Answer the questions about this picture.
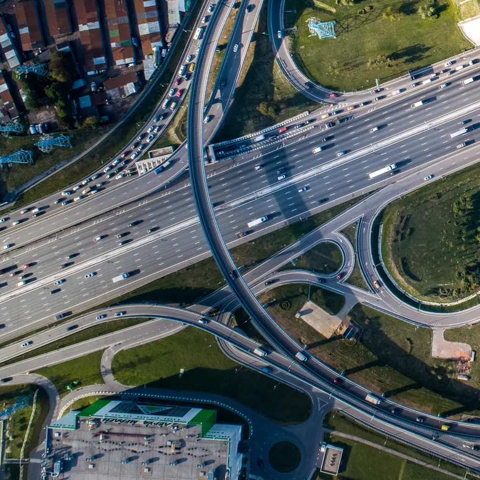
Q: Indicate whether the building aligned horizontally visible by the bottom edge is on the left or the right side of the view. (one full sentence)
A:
You can find the building aligned horizontally visible by the bottom edge on the left side of the picture.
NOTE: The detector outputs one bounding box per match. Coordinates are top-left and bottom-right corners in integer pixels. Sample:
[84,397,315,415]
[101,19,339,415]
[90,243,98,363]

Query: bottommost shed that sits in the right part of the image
[321,443,344,475]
